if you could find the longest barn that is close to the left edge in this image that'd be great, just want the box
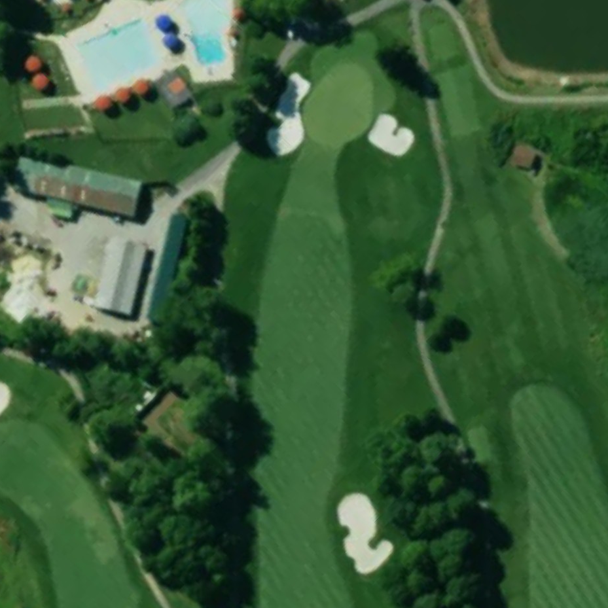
[21,157,142,217]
